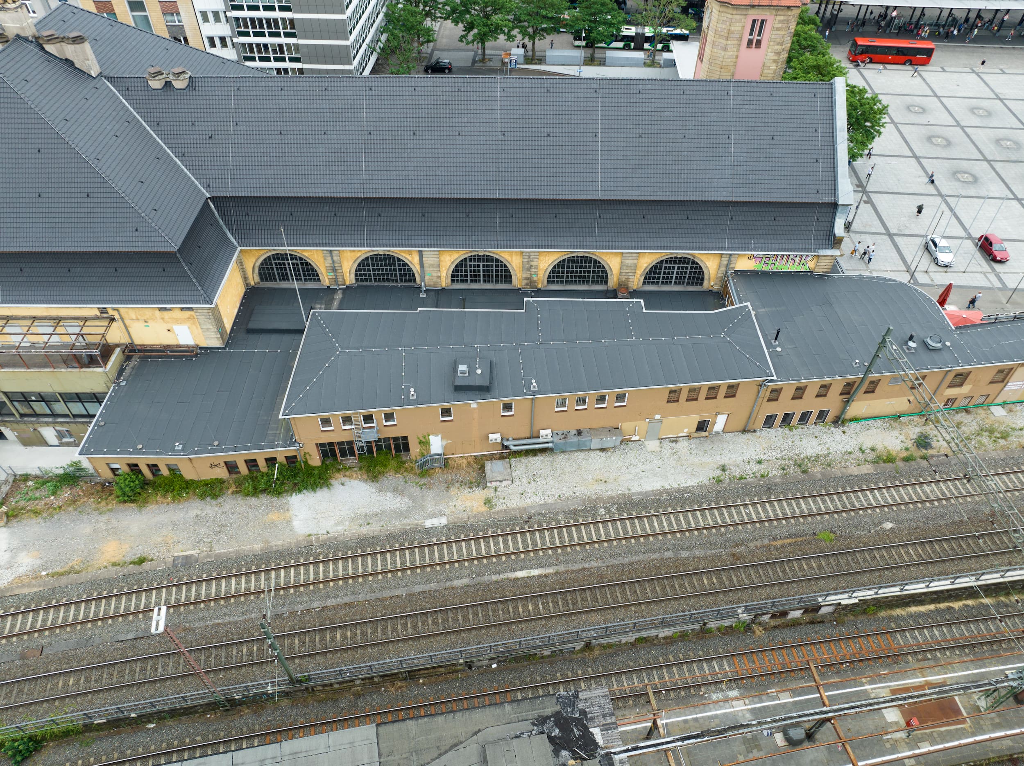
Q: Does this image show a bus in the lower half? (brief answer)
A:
No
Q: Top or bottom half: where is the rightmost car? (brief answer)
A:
top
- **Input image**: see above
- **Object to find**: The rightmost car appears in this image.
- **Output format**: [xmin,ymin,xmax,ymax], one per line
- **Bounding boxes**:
[978,230,1014,259]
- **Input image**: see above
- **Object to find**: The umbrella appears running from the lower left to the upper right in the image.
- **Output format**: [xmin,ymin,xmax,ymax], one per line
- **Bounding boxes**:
[938,282,955,305]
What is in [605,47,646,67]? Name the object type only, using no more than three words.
shed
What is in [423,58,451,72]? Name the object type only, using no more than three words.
car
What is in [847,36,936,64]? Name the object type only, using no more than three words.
bus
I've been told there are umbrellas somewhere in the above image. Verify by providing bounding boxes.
[939,302,990,328]
[938,282,955,305]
